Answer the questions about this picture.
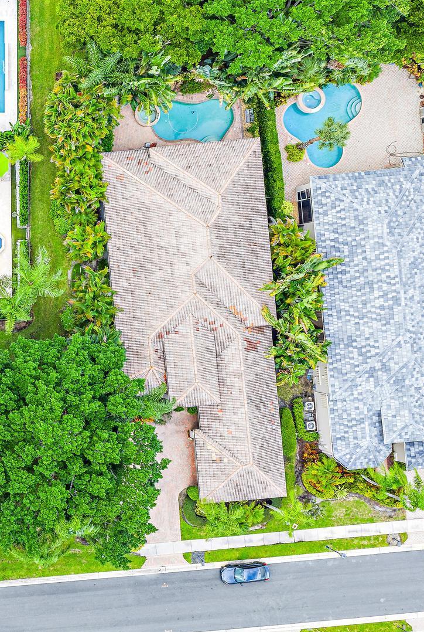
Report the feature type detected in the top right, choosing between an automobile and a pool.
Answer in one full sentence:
What appears in the top right is a pool.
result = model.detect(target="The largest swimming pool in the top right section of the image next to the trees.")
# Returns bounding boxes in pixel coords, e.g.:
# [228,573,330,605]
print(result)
[282,80,365,171]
